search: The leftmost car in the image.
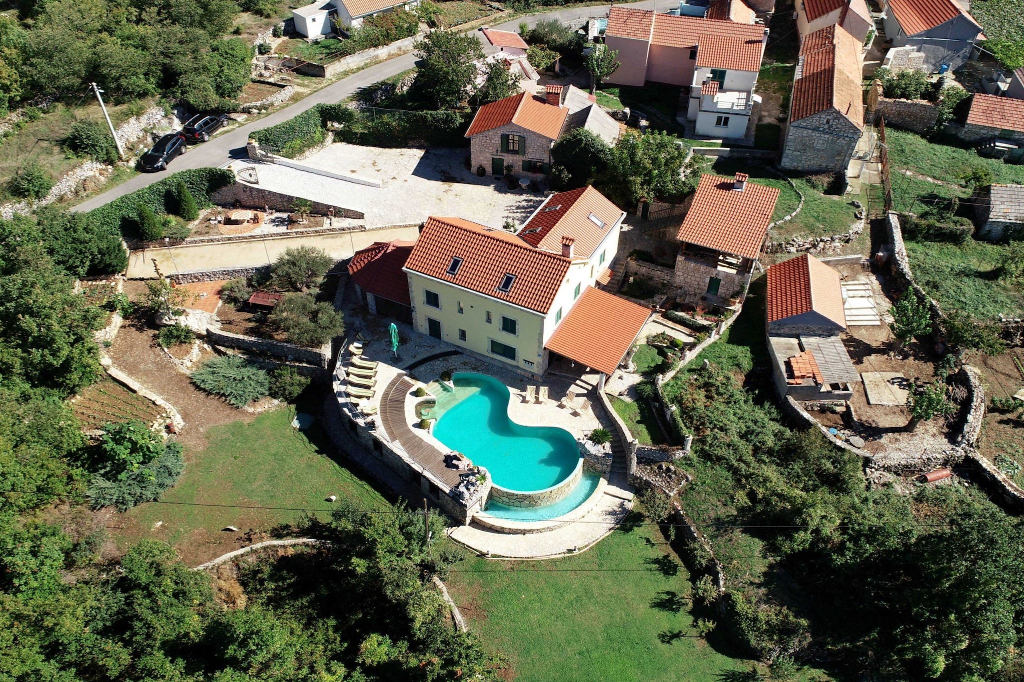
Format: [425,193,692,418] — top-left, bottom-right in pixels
[139,129,188,170]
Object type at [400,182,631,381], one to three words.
house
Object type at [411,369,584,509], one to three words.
swimming pool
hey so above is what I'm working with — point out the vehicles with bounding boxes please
[139,129,188,170]
[180,108,231,141]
